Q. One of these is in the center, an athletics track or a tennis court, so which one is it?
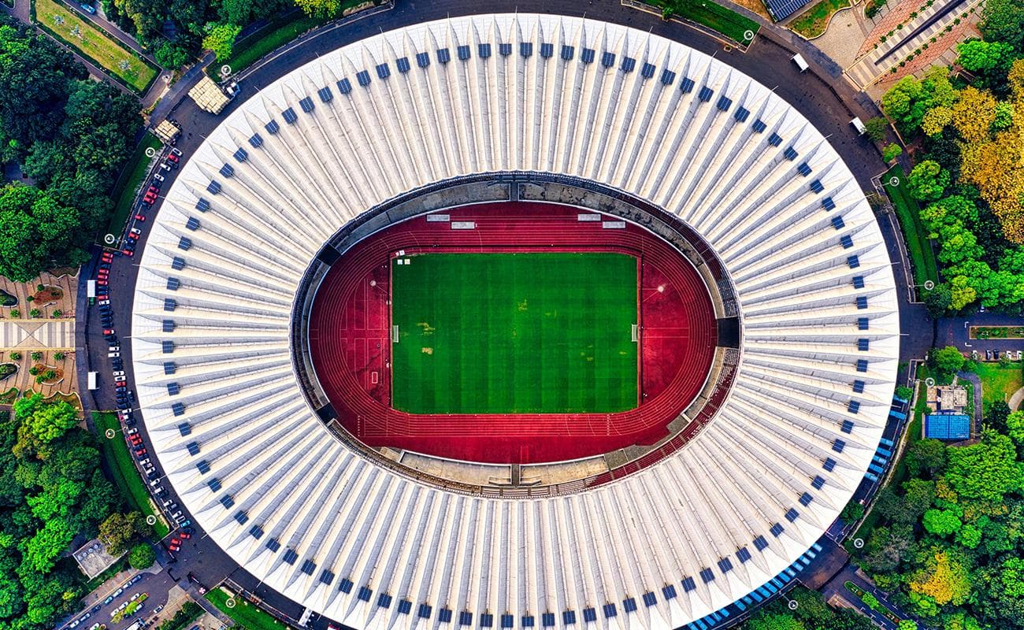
athletics track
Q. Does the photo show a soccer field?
Yes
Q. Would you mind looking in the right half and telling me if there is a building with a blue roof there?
Yes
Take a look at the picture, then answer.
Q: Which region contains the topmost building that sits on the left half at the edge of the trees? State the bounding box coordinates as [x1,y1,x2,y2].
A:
[76,535,131,579]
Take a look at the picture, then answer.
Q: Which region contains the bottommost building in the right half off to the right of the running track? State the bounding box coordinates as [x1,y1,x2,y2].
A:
[920,414,970,439]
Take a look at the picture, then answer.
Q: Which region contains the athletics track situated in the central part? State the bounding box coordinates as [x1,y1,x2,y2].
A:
[310,203,717,462]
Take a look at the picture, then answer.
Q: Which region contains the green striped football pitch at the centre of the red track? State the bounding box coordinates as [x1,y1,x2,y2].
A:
[390,252,640,414]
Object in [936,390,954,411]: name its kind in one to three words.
building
